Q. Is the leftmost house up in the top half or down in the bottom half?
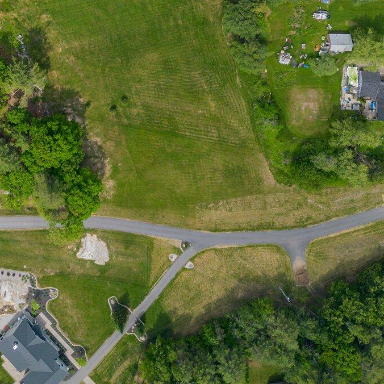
bottom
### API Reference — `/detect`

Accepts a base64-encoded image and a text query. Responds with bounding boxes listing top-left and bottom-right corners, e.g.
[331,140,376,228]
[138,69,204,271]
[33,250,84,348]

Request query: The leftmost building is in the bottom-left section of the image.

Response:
[0,309,75,384]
